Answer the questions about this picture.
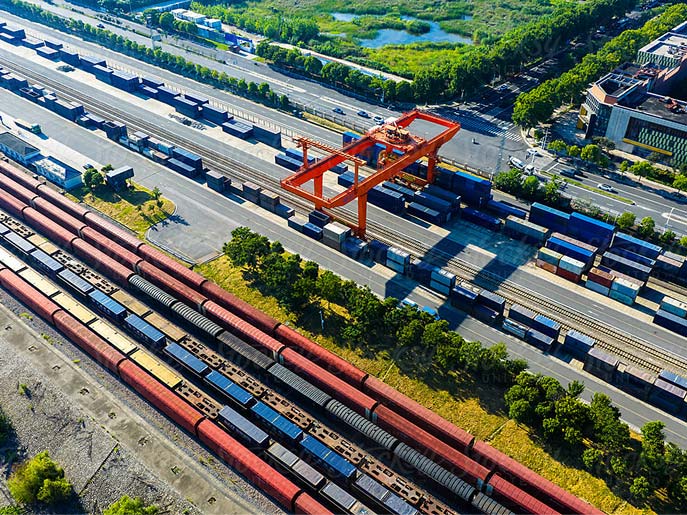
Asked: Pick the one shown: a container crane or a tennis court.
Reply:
container crane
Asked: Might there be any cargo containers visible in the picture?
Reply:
Yes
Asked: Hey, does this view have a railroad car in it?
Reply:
Yes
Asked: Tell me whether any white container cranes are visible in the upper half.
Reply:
No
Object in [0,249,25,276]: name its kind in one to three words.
rail car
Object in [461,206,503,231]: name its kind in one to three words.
shipping container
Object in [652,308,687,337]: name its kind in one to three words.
shipping container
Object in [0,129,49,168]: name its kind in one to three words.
house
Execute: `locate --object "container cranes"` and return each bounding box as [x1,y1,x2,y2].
[282,108,459,242]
